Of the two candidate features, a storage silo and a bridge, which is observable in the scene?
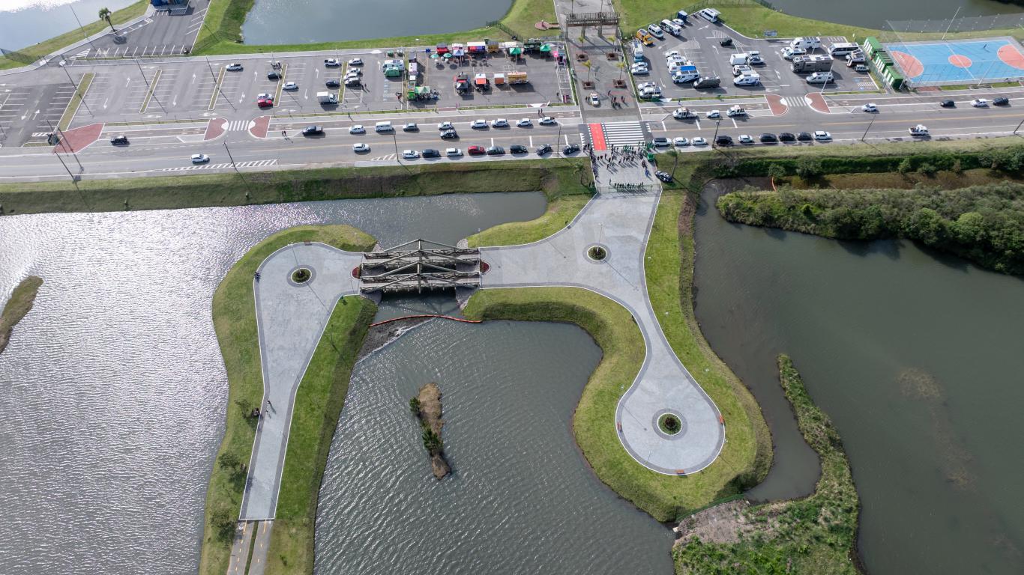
bridge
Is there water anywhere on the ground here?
Yes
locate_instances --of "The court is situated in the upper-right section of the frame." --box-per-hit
[882,36,1024,87]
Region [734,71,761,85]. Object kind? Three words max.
camper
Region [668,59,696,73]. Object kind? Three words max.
camper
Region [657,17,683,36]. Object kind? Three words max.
vehicle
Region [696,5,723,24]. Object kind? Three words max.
vehicle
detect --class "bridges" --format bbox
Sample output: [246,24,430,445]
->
[362,238,480,294]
